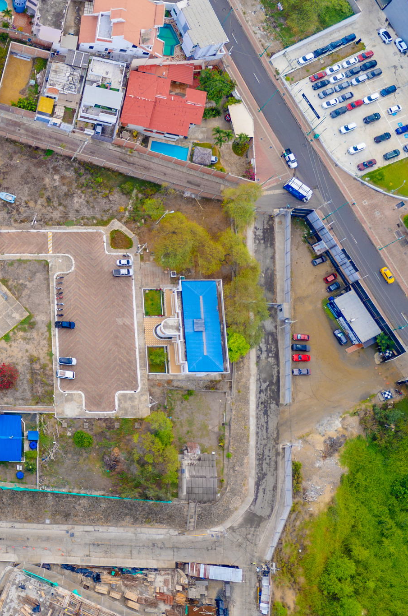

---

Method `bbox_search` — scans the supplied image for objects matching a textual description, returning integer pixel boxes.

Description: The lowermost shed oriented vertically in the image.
[256,575,272,614]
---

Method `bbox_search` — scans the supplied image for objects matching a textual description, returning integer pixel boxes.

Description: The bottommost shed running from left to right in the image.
[187,562,242,582]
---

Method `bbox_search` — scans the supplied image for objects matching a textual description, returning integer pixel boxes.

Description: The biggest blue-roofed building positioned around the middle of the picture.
[152,279,231,376]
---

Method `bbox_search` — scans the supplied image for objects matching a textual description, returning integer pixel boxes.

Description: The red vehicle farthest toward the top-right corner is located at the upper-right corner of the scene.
[358,47,378,61]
